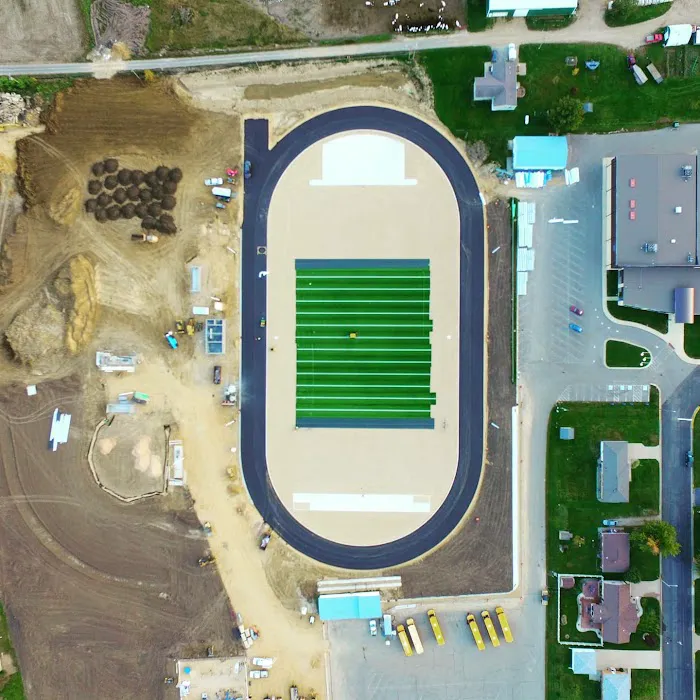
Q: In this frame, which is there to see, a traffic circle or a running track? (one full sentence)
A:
There is a running track in the scene.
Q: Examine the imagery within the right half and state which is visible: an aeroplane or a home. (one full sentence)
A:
You can see a home within the right half.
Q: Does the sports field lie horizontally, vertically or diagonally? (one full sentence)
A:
The sports field is laid out vertically.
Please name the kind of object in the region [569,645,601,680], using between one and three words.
building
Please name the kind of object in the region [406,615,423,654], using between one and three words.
vehicle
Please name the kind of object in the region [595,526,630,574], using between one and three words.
house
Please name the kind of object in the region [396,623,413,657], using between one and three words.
vehicle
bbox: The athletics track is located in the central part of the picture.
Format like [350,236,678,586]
[241,106,483,569]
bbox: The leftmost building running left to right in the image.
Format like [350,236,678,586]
[319,589,382,621]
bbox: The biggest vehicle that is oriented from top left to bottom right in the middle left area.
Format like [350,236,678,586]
[165,333,179,350]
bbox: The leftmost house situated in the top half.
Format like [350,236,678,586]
[474,59,517,108]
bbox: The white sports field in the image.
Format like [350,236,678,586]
[266,130,459,546]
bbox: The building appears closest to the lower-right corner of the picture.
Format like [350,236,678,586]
[600,668,630,700]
